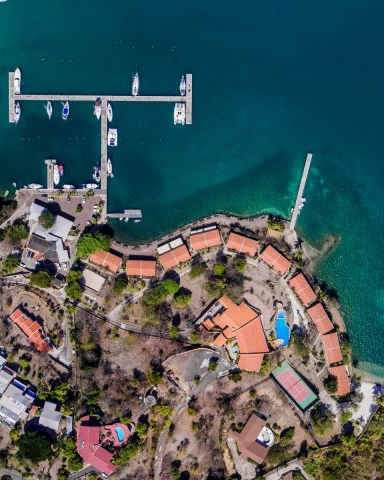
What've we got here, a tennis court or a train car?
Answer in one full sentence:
Visible in the photo is a tennis court.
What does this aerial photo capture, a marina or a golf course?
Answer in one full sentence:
It's a marina.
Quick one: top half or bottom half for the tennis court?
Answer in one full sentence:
The tennis court is in the bottom half of the image.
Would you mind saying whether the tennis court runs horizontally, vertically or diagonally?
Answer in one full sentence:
What the image shows is the tennis court lying diagonally.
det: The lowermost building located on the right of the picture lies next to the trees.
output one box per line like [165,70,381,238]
[227,412,268,460]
